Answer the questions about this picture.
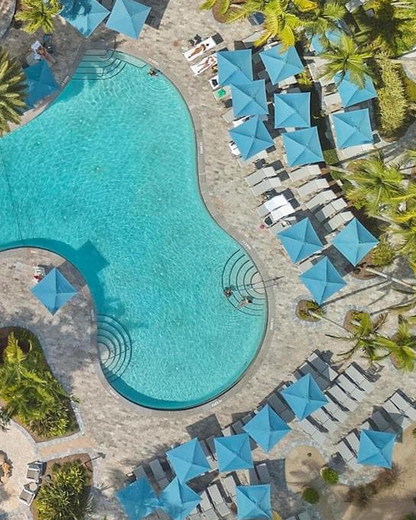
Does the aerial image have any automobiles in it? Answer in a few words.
No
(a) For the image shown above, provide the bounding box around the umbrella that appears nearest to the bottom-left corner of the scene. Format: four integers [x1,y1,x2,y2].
[114,475,160,519]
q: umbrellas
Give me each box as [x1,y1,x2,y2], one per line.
[227,78,267,117]
[232,478,269,518]
[326,216,377,264]
[164,434,213,481]
[214,48,252,86]
[212,430,251,469]
[328,108,372,148]
[226,112,275,161]
[61,0,109,38]
[104,0,149,39]
[294,253,344,304]
[279,123,323,167]
[239,399,289,449]
[17,61,62,109]
[154,472,201,520]
[350,426,393,466]
[27,264,77,313]
[277,369,328,420]
[114,475,160,519]
[258,42,301,86]
[269,92,307,128]
[275,216,320,263]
